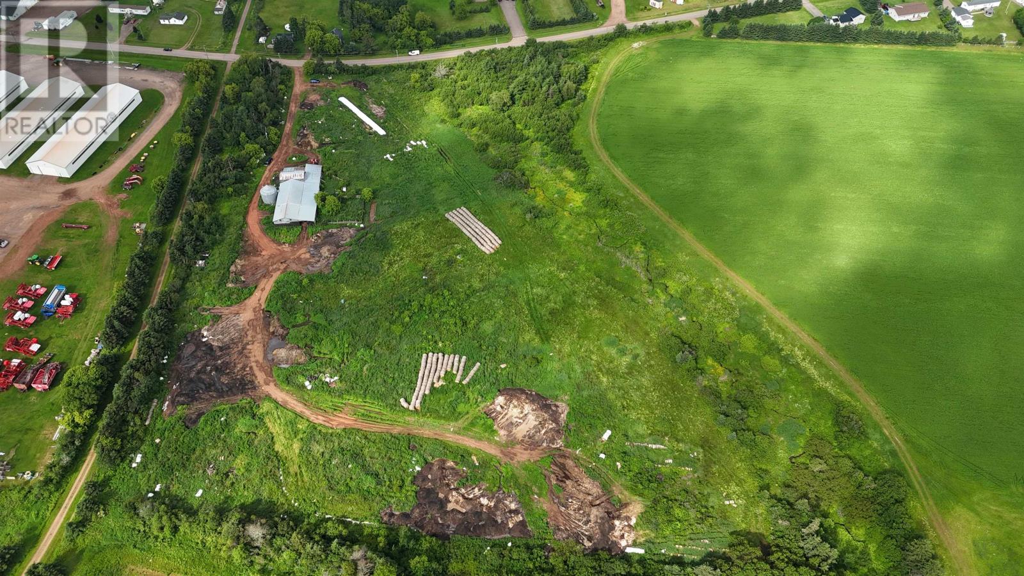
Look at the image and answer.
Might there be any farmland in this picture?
Yes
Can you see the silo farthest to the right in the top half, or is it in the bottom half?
top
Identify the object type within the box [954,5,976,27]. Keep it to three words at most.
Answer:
building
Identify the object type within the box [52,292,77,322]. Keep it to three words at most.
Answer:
work vehicle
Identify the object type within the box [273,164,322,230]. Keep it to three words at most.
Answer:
barn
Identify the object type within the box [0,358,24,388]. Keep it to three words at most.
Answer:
work vehicle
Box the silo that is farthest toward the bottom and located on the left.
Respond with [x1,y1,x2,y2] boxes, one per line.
[257,184,279,204]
